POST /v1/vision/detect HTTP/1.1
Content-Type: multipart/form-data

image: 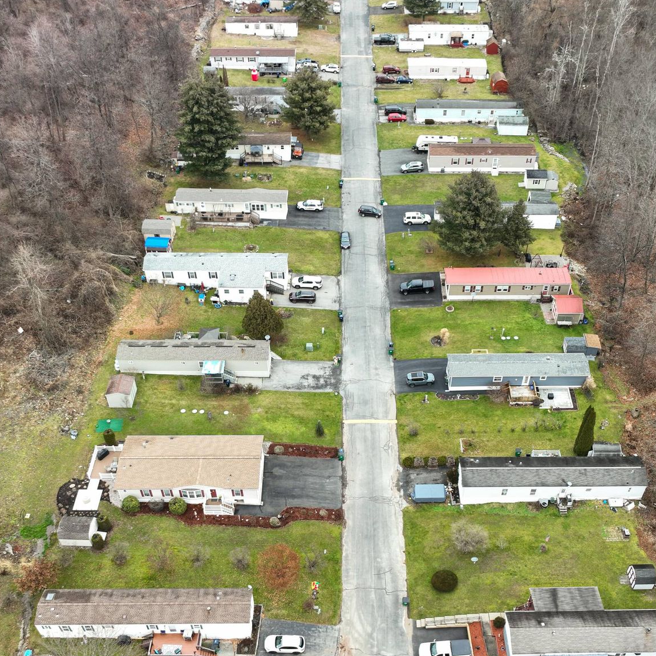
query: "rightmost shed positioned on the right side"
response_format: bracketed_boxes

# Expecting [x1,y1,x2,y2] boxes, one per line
[629,563,656,590]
